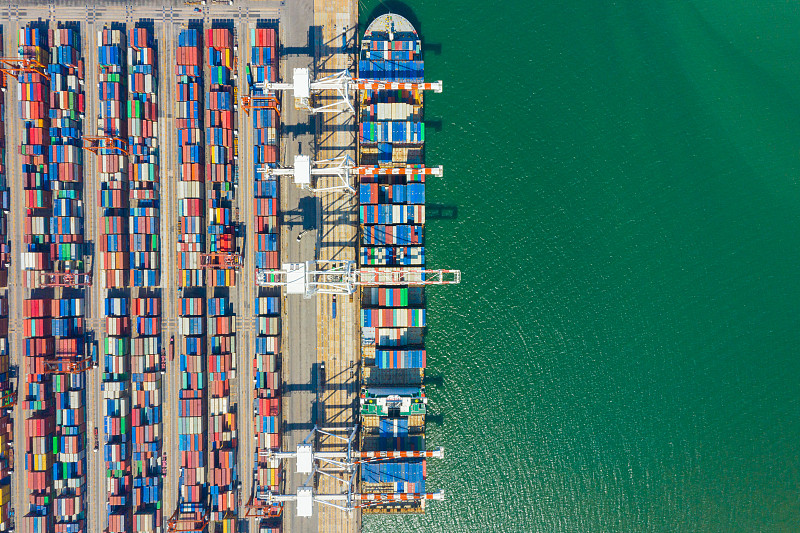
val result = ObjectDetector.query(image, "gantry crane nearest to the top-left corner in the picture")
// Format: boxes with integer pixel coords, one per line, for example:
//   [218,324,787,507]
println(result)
[0,58,51,82]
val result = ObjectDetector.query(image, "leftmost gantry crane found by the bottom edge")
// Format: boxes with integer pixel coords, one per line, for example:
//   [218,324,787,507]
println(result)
[165,503,209,531]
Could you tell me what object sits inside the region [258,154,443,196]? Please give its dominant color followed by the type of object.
white container crane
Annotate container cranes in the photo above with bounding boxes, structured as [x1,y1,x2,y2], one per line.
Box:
[0,58,51,82]
[257,68,443,118]
[254,256,462,299]
[165,503,209,531]
[41,353,92,374]
[258,154,443,196]
[240,95,280,118]
[261,458,445,515]
[200,252,244,269]
[39,270,91,288]
[260,420,445,471]
[80,135,130,156]
[244,492,284,517]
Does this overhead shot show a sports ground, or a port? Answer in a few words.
port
